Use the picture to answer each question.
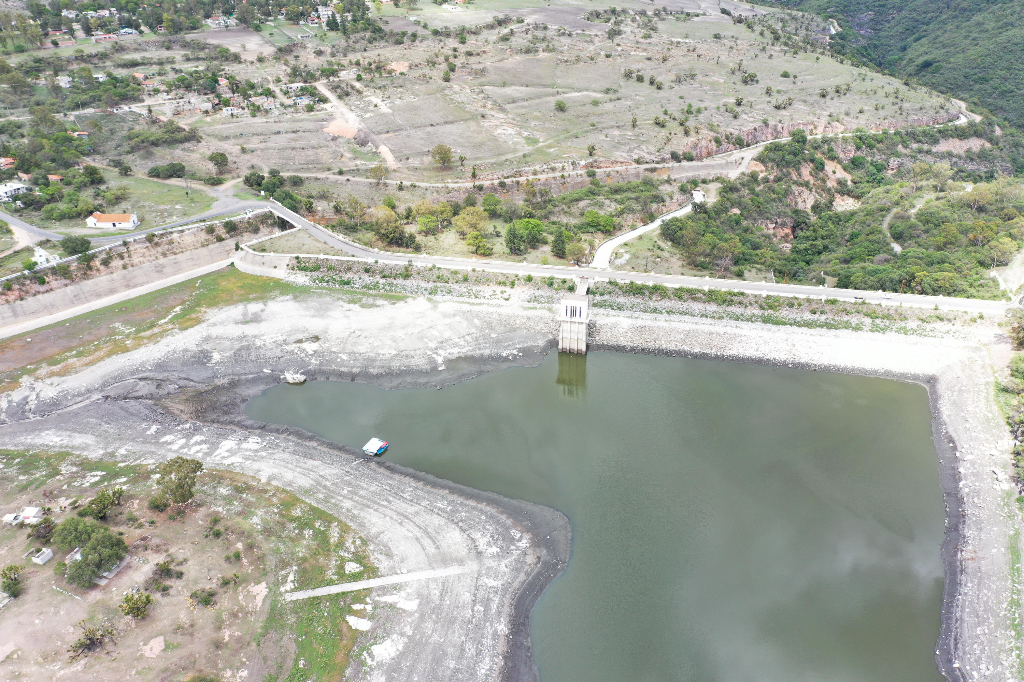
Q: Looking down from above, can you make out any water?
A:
Yes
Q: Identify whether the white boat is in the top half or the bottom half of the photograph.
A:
bottom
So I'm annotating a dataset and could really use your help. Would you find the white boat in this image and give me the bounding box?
[362,438,384,458]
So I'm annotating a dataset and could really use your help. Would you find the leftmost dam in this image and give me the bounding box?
[0,260,236,341]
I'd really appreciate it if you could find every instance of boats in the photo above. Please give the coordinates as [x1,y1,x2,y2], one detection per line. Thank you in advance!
[379,442,392,455]
[362,438,384,458]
